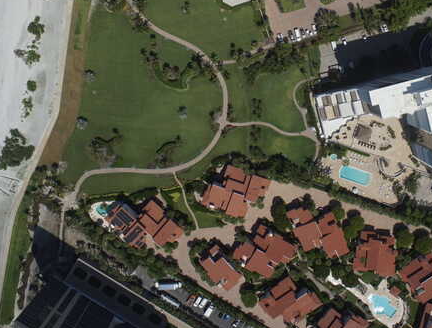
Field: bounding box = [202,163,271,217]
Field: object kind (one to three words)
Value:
house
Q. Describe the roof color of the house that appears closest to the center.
red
